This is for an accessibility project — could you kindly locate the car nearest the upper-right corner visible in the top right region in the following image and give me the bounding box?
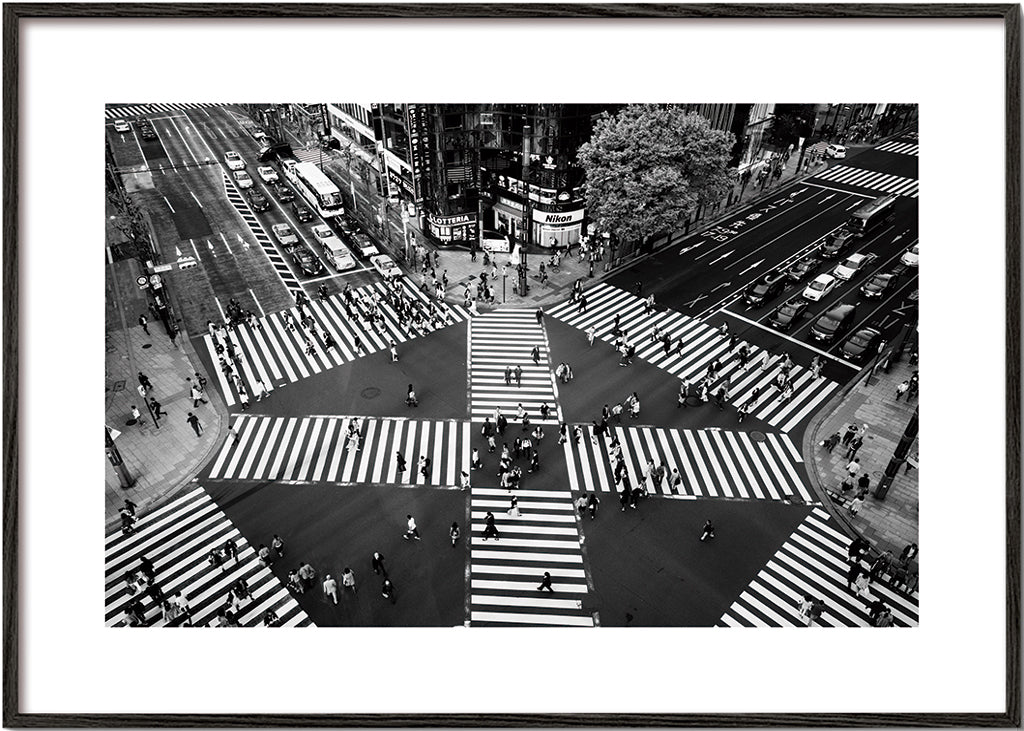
[898,127,919,141]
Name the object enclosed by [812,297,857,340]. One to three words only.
van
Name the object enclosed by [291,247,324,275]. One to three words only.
car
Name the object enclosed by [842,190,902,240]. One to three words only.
bus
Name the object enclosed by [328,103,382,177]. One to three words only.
building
